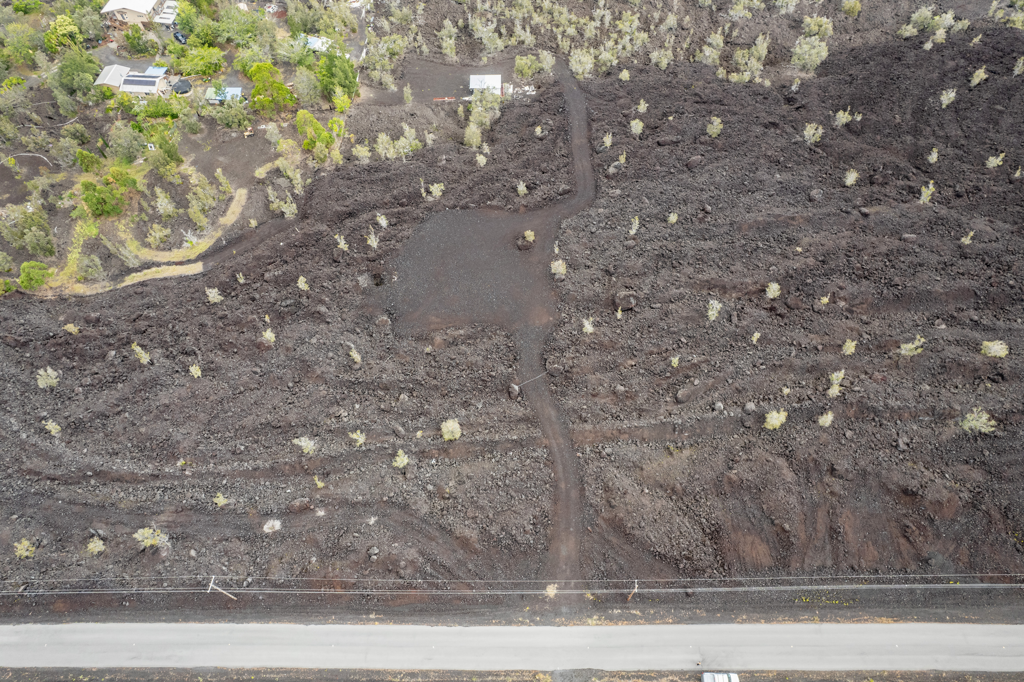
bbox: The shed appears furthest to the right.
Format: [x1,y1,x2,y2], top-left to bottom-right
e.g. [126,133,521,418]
[470,75,501,97]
